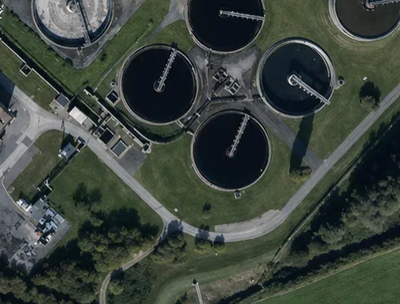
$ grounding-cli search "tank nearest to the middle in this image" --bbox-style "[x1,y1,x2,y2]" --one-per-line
[189,110,272,193]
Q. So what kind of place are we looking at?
industrial area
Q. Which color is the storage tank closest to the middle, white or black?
black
